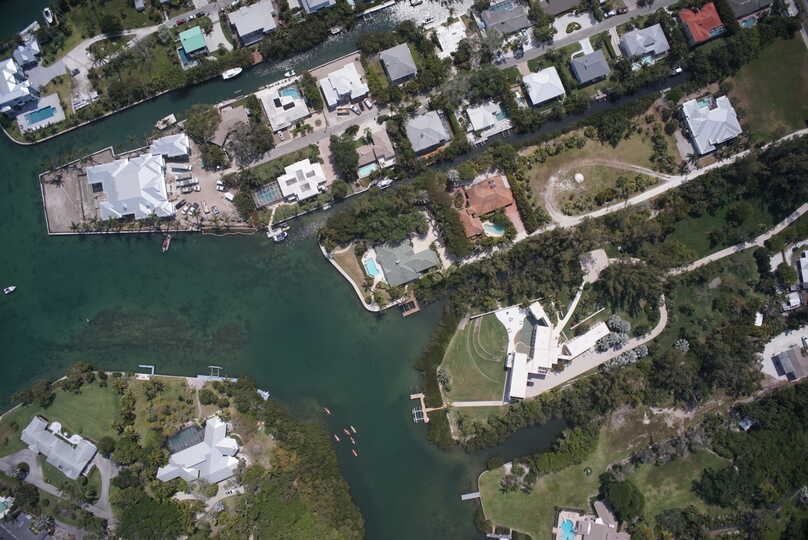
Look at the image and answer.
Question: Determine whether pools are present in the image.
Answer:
Yes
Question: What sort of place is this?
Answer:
residential area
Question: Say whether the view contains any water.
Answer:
Yes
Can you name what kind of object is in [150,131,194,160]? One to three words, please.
building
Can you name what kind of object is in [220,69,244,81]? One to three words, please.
boat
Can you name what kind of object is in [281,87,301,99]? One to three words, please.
swimming pool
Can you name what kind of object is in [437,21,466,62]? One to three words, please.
house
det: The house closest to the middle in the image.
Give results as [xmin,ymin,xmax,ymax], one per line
[376,240,442,287]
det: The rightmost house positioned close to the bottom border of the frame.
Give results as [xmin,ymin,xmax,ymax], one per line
[576,493,633,540]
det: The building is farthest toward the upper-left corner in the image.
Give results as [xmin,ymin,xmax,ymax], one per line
[12,39,45,69]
